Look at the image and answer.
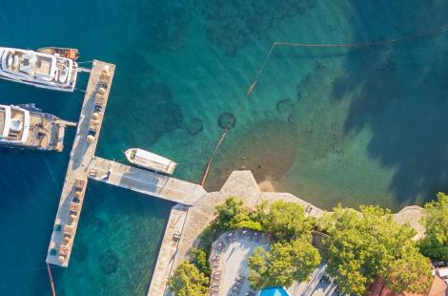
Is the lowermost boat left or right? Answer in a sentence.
The lowermost boat sits on the left side.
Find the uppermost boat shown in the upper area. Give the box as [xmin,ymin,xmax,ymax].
[39,46,80,61]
